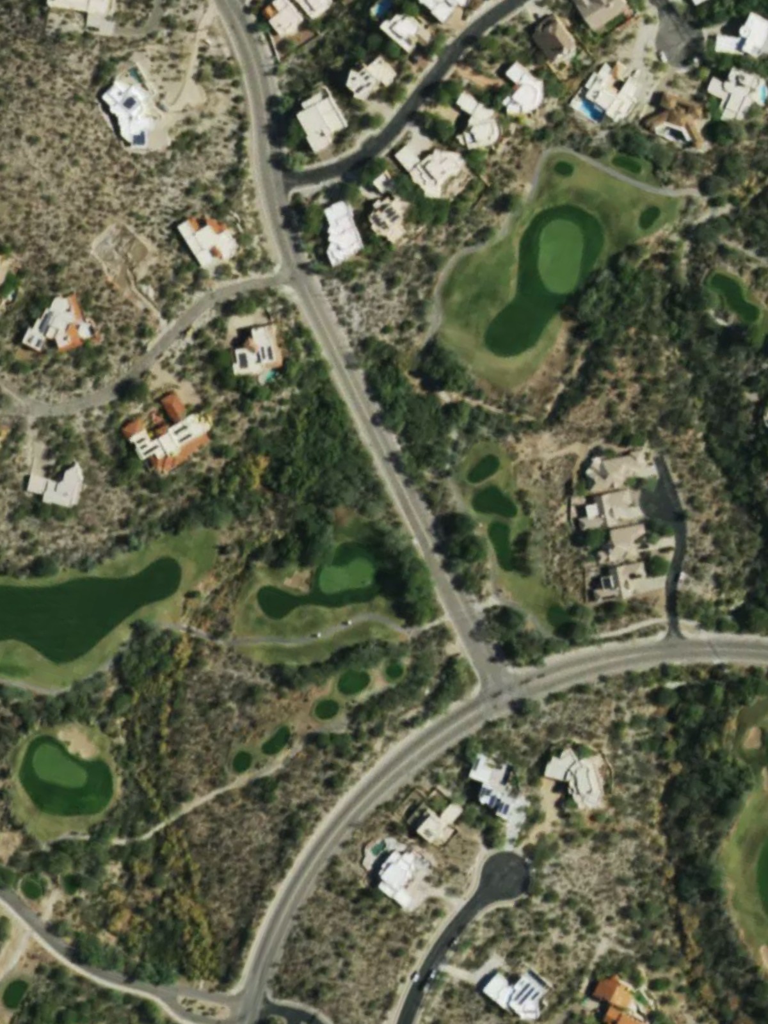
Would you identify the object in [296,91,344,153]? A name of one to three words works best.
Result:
house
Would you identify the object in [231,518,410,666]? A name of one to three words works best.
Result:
golf course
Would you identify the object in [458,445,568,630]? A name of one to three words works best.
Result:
golf course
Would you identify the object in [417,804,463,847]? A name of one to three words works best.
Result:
house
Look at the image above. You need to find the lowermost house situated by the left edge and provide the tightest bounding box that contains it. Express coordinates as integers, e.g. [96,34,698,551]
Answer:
[26,460,83,508]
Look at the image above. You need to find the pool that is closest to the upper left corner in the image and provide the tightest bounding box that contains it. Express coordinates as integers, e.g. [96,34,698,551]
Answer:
[128,66,148,89]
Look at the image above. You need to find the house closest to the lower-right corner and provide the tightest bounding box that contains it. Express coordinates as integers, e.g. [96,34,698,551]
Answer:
[594,976,648,1024]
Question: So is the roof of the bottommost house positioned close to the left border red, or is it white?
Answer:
white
